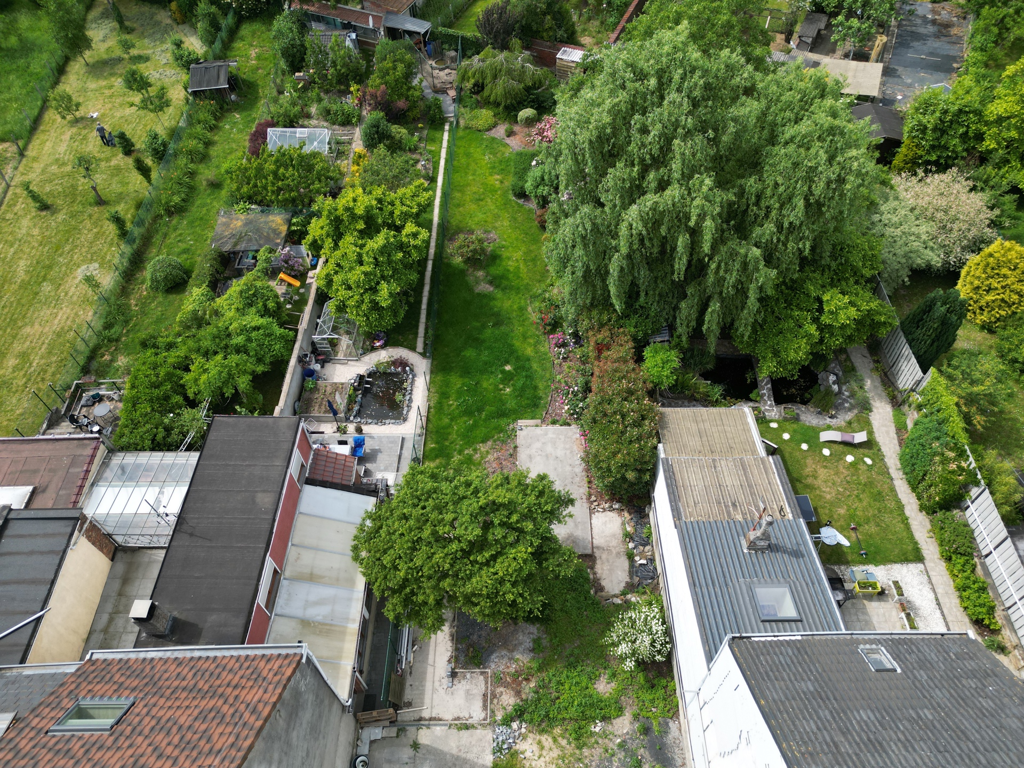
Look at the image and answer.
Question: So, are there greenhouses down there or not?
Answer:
Yes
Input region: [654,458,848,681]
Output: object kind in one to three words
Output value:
shed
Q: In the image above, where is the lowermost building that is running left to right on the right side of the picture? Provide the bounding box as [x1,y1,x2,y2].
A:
[680,625,1024,768]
